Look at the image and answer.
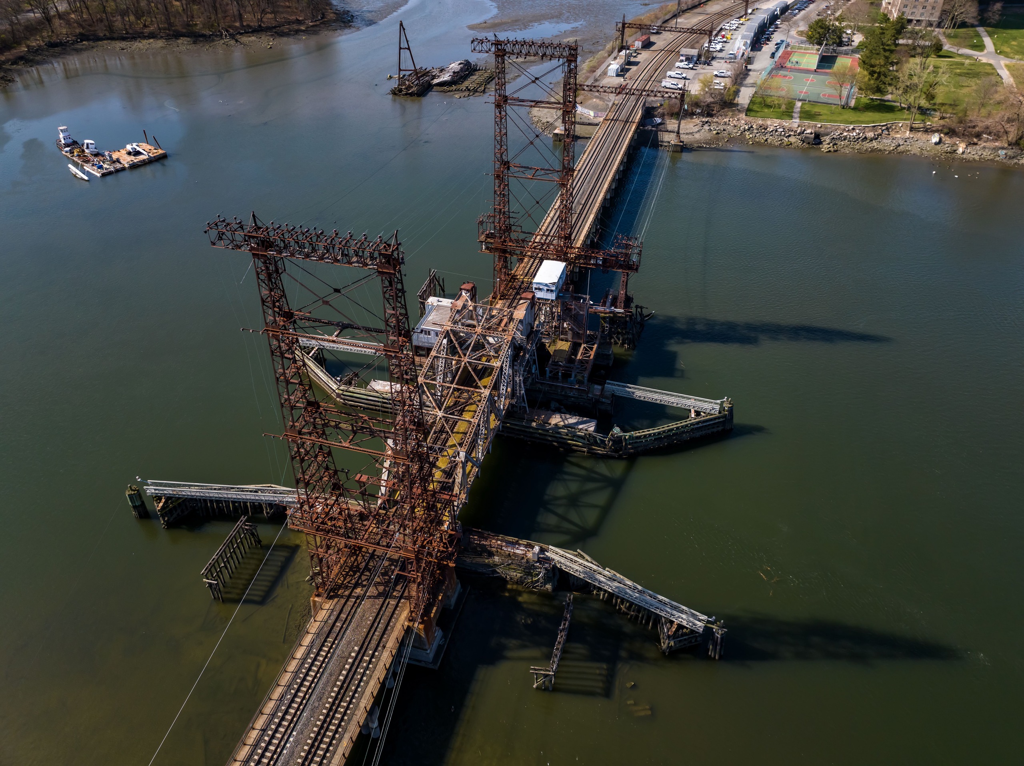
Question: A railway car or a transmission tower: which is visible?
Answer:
transmission tower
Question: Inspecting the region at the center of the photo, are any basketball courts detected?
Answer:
No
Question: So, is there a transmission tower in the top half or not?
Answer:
Yes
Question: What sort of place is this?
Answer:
port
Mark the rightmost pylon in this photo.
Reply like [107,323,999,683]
[467,30,592,304]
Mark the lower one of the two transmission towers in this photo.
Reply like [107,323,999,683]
[197,210,467,623]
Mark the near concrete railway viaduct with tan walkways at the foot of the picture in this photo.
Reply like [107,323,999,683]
[222,525,444,766]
